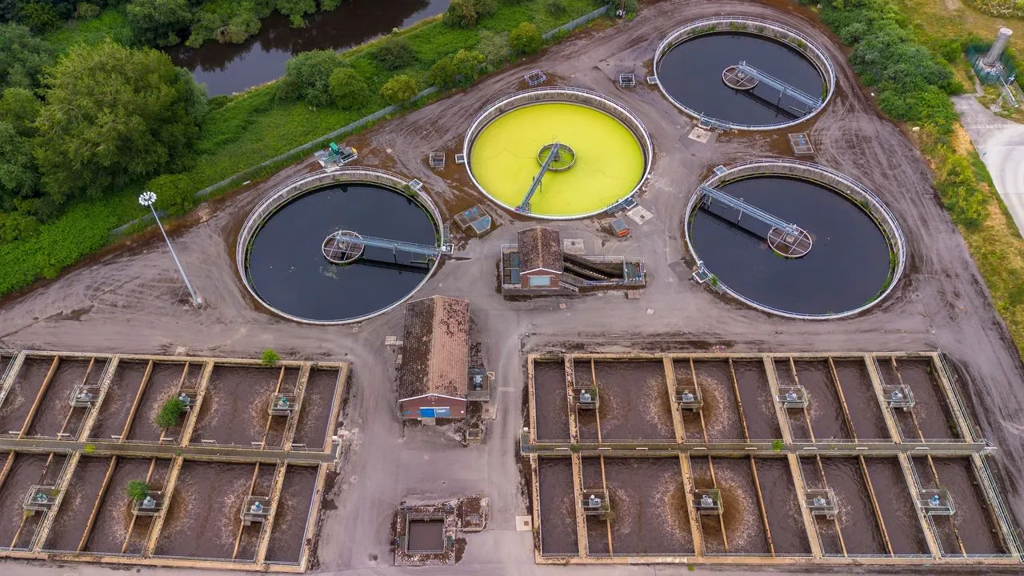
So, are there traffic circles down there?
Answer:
No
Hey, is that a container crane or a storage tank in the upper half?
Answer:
storage tank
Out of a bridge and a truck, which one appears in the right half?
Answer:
bridge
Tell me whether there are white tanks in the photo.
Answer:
No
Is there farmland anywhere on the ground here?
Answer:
No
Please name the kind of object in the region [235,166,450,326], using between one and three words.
storage tank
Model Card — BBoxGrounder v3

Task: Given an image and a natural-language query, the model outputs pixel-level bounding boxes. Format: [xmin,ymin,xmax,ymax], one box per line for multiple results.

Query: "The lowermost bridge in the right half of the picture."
[691,184,798,237]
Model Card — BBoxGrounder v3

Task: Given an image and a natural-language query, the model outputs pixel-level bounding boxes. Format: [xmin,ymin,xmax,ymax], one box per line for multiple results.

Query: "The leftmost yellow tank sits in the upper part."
[462,85,654,221]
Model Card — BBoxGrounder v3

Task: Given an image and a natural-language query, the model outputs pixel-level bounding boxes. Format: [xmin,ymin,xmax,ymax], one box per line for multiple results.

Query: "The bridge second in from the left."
[515,145,560,219]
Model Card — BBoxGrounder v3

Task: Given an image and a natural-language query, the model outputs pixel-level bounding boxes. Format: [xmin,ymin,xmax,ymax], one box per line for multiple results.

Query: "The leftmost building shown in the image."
[394,295,469,427]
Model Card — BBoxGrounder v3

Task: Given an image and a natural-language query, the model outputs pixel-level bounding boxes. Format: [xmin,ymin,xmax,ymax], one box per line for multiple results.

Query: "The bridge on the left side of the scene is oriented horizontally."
[337,233,450,270]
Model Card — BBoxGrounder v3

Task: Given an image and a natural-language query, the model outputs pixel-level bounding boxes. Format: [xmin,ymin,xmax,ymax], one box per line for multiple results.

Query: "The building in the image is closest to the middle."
[502,228,565,296]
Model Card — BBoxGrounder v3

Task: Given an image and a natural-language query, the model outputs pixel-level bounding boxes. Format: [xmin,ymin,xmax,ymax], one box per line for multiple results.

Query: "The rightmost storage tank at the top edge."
[654,16,836,132]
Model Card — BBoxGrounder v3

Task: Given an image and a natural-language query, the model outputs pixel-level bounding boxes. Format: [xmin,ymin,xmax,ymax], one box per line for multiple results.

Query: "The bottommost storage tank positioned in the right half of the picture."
[686,159,906,322]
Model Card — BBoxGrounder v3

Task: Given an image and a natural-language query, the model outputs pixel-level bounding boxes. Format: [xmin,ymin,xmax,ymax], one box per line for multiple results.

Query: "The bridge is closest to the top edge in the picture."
[736,60,829,116]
